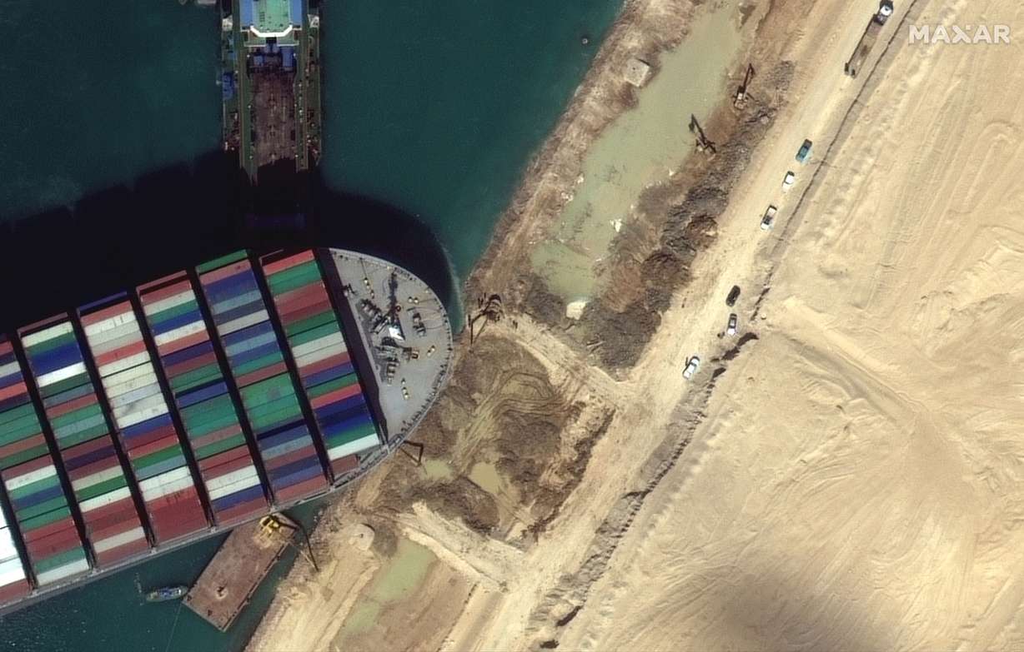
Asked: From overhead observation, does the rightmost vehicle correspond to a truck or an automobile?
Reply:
truck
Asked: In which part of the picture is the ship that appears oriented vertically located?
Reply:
top left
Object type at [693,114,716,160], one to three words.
work vehicle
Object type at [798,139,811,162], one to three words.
vehicle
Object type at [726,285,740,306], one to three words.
car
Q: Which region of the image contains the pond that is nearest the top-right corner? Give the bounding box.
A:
[530,0,750,302]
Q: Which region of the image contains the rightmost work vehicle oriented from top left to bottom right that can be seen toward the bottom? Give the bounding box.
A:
[393,441,424,468]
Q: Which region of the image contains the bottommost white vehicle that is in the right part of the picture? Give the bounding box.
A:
[684,356,699,378]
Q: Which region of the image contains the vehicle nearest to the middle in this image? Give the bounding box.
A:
[469,290,508,346]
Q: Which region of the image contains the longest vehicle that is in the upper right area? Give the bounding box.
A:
[845,3,893,77]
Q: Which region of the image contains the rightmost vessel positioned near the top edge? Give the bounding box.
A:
[217,0,321,243]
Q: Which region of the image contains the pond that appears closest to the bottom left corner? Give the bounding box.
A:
[334,537,436,652]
